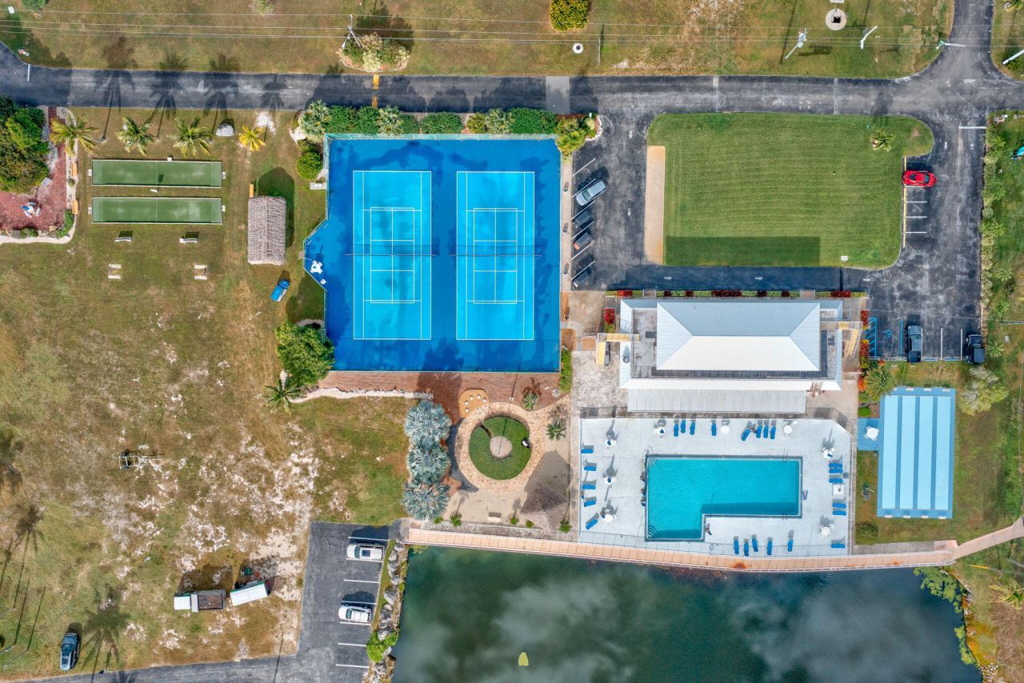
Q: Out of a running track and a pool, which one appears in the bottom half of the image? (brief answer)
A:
pool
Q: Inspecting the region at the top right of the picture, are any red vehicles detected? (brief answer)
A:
Yes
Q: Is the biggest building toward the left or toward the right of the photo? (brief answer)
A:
right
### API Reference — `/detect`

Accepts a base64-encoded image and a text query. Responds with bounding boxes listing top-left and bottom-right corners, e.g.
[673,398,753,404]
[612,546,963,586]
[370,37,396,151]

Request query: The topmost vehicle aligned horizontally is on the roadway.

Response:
[902,169,937,186]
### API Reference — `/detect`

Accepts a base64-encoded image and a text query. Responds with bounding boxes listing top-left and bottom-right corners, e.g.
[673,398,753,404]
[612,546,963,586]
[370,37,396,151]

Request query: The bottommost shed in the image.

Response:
[519,480,569,532]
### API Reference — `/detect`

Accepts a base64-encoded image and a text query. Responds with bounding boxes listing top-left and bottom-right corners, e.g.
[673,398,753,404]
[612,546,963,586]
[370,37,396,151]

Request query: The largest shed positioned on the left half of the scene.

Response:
[244,195,294,267]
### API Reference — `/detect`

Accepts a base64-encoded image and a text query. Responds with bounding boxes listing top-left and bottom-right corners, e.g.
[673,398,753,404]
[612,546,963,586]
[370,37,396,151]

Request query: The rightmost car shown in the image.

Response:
[963,333,985,365]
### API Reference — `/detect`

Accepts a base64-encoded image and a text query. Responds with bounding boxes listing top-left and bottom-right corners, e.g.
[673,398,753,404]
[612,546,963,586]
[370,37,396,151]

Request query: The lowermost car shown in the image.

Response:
[59,633,81,669]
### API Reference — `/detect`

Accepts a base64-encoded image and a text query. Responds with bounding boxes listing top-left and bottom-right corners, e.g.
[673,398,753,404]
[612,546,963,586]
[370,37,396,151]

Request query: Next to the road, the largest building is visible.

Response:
[619,300,842,414]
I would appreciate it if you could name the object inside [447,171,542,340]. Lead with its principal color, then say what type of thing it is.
blue tennis court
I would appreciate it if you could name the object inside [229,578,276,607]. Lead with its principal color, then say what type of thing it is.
white trailer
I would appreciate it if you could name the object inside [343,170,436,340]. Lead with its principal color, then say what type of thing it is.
blue tennis court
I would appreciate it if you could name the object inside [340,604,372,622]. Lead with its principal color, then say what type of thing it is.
white car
